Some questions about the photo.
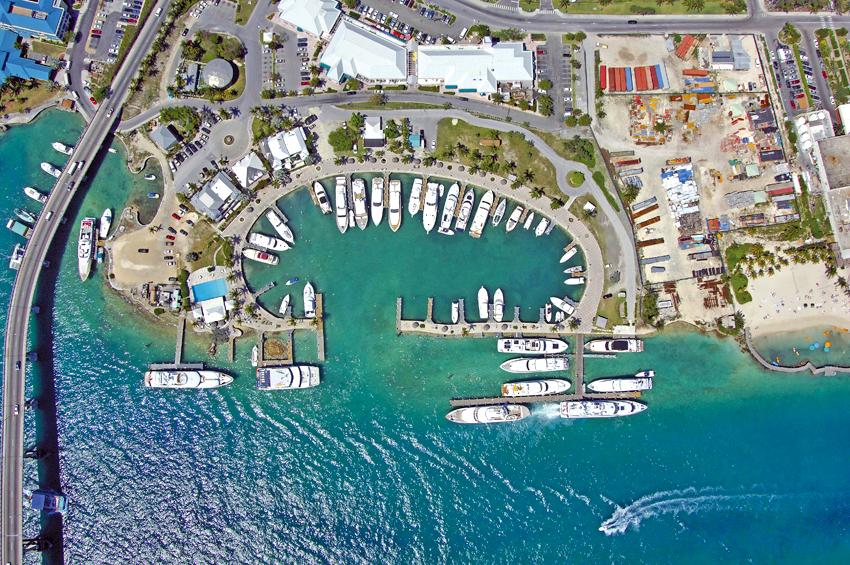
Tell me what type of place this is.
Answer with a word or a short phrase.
port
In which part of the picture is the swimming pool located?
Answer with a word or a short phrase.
left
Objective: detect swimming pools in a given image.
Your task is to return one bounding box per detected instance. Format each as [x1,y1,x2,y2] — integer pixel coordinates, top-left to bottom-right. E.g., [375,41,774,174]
[188,265,232,328]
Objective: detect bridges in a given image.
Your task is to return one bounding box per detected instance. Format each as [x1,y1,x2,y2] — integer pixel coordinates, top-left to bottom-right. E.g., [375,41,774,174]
[2,0,173,565]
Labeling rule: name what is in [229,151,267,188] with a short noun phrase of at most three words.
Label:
building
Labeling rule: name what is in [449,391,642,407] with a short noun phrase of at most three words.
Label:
pier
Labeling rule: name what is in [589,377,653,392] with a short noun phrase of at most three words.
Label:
boat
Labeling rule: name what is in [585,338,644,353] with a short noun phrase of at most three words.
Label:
boat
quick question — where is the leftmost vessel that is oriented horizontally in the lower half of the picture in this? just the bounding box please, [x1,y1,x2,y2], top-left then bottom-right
[29,494,70,512]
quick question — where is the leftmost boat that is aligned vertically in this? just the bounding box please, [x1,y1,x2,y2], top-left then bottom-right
[9,244,25,270]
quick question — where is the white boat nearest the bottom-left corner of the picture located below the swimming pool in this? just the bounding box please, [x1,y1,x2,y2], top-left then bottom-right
[144,370,232,388]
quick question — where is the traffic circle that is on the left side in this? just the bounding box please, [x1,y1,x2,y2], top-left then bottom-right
[206,117,252,163]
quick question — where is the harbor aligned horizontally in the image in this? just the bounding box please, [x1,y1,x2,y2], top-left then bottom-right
[214,151,603,335]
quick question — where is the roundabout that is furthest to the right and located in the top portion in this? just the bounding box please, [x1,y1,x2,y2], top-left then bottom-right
[556,158,597,199]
